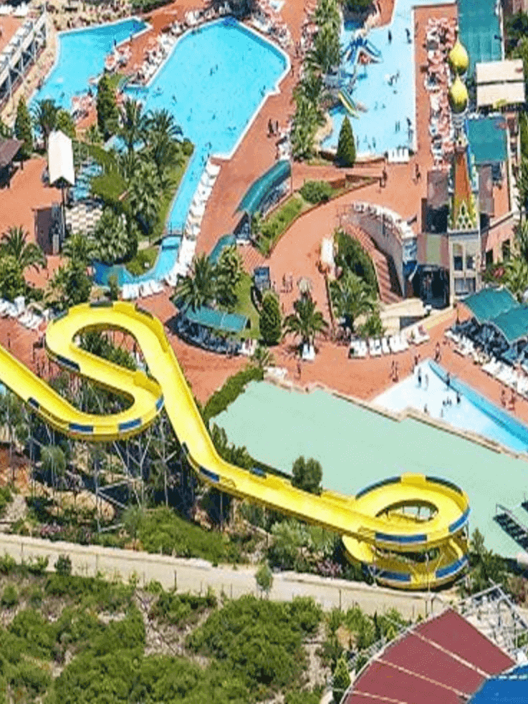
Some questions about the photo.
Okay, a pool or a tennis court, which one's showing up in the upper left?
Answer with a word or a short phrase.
pool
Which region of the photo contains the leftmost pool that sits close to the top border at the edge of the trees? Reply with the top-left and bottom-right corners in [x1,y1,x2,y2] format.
[30,18,150,113]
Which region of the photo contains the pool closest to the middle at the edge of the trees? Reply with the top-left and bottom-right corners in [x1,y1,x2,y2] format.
[91,240,181,291]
